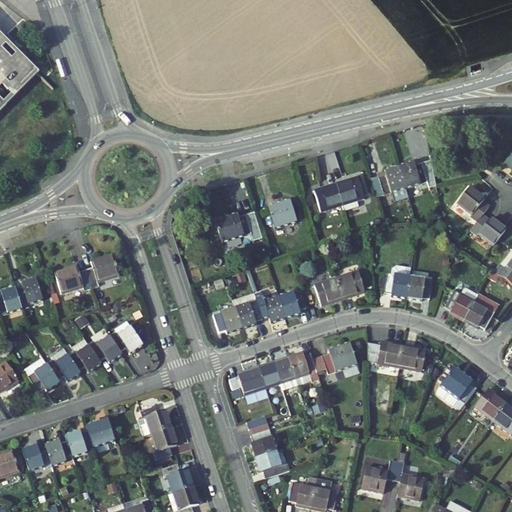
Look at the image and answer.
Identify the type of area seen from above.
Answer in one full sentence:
It's a residential area.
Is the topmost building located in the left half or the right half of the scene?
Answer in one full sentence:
You can find the topmost building on the left side of the picture.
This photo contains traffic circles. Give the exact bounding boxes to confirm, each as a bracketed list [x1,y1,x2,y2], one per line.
[90,140,165,214]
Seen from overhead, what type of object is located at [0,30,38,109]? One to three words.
building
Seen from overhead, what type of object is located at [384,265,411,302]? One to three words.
house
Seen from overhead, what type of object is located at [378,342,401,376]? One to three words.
house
